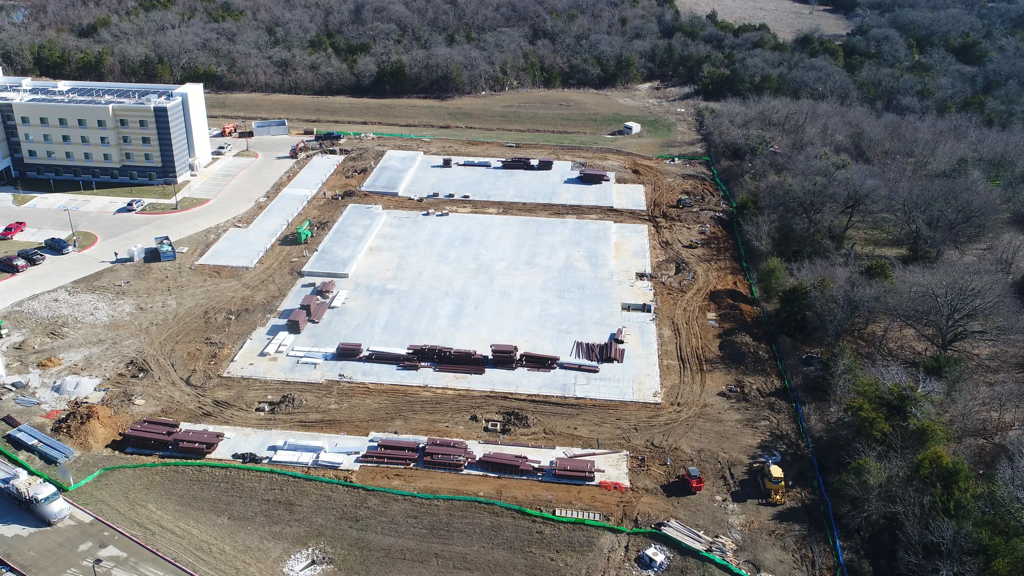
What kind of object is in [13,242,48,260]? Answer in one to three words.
vehicle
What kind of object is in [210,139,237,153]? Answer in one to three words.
vehicle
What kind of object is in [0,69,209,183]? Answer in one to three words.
building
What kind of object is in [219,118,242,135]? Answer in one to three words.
work vehicle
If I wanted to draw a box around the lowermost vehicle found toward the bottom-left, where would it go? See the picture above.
[0,468,65,518]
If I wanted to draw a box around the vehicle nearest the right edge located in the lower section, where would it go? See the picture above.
[752,458,788,510]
